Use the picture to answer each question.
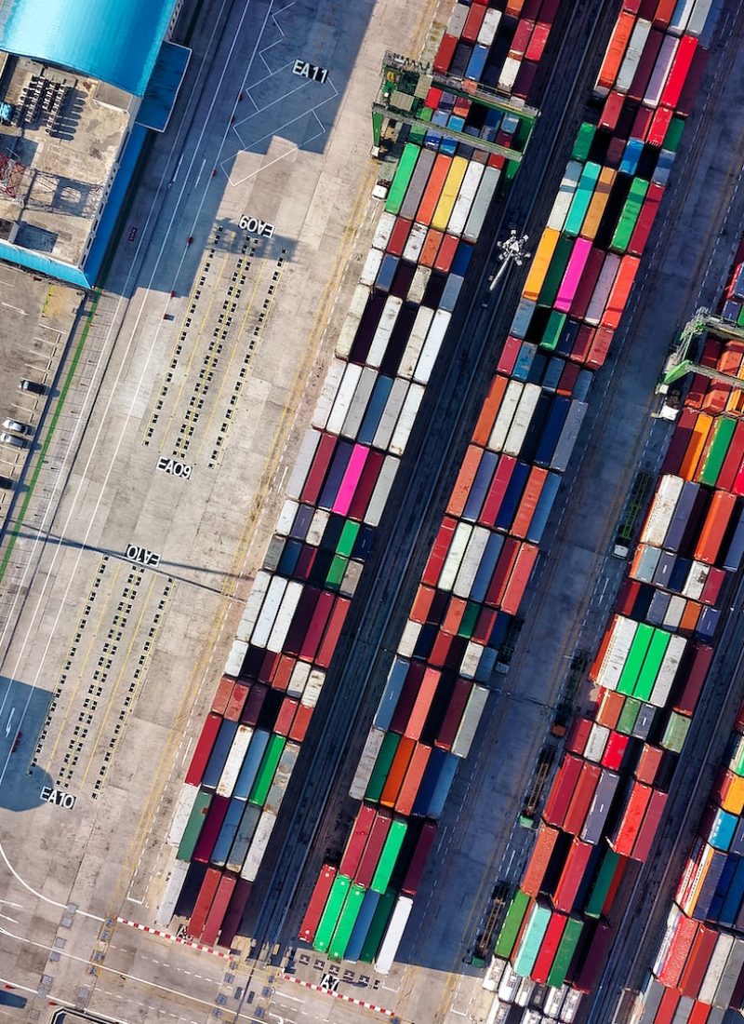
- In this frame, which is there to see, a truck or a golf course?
truck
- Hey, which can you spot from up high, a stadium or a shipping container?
shipping container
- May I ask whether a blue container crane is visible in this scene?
No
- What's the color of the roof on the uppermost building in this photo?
blue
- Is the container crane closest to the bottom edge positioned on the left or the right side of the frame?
right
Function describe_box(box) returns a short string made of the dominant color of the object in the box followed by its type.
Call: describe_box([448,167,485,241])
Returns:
white shipping container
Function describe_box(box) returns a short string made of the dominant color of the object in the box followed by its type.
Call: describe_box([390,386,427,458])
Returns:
white shipping container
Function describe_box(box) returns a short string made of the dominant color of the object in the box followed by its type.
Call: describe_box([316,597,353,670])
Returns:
red shipping container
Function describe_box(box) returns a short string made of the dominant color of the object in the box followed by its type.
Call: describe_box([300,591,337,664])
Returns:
red shipping container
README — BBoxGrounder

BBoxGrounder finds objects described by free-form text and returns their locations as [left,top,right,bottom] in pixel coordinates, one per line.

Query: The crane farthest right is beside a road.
[660,313,744,390]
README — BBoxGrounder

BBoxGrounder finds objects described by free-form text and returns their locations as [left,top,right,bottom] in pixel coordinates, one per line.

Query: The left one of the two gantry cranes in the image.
[369,38,543,194]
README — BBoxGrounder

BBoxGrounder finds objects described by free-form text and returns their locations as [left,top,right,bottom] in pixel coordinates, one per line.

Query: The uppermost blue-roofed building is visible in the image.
[0,0,193,135]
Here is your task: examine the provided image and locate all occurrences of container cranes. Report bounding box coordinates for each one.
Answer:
[660,313,744,390]
[369,38,543,194]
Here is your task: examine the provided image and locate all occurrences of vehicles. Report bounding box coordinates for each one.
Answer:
[468,885,510,973]
[3,421,29,438]
[364,119,407,207]
[492,593,533,678]
[609,474,651,560]
[515,745,557,832]
[547,654,589,741]
[0,476,16,491]
[656,377,683,425]
[20,381,45,398]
